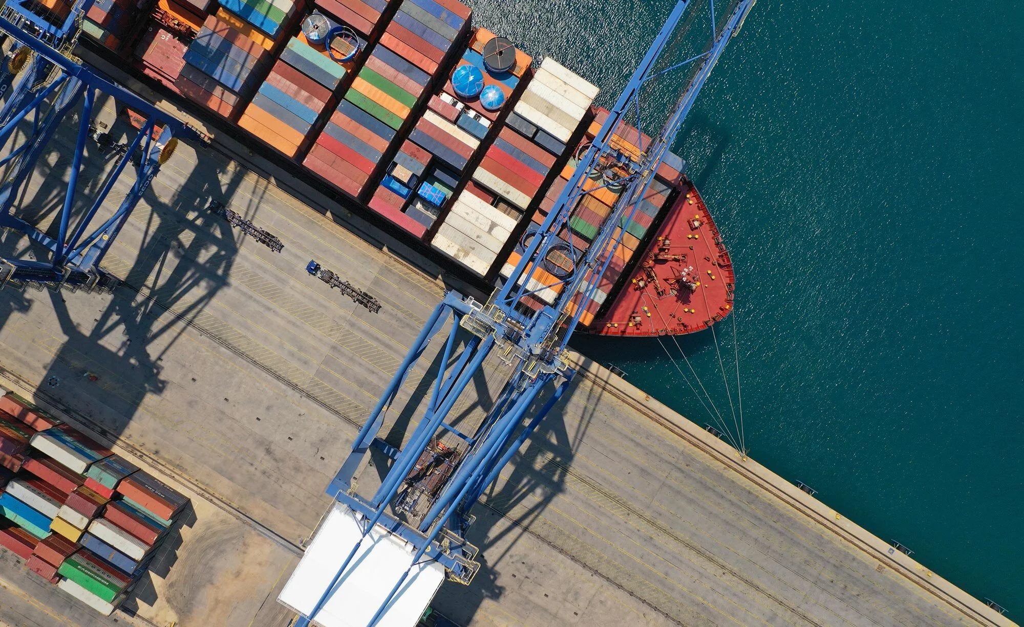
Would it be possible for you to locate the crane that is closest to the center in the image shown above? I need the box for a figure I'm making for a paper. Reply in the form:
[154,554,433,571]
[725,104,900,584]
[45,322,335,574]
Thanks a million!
[271,0,759,627]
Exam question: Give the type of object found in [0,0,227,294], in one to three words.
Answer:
container crane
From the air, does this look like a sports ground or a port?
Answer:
port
